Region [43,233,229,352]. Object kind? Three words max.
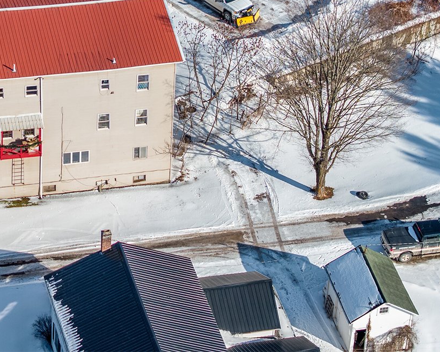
house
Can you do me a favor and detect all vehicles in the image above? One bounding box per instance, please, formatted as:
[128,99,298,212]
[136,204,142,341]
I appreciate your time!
[380,220,440,263]
[192,0,251,21]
